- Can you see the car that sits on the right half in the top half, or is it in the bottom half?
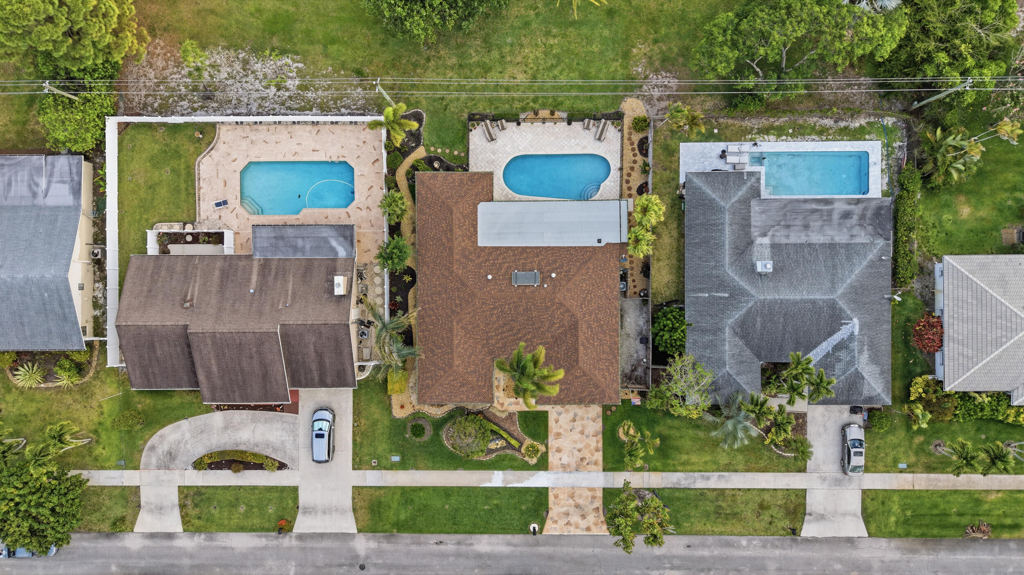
bottom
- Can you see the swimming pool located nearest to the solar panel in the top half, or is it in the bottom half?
top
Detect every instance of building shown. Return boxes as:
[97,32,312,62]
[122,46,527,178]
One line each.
[114,224,360,404]
[415,171,633,405]
[0,154,94,352]
[928,254,1024,406]
[684,171,892,406]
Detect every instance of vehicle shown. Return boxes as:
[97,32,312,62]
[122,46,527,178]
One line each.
[840,424,868,476]
[309,407,336,463]
[0,538,60,563]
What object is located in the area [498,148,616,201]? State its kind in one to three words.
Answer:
swimming pool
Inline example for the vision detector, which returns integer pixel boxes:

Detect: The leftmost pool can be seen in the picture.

[237,158,358,218]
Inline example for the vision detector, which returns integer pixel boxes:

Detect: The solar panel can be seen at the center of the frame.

[512,270,540,286]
